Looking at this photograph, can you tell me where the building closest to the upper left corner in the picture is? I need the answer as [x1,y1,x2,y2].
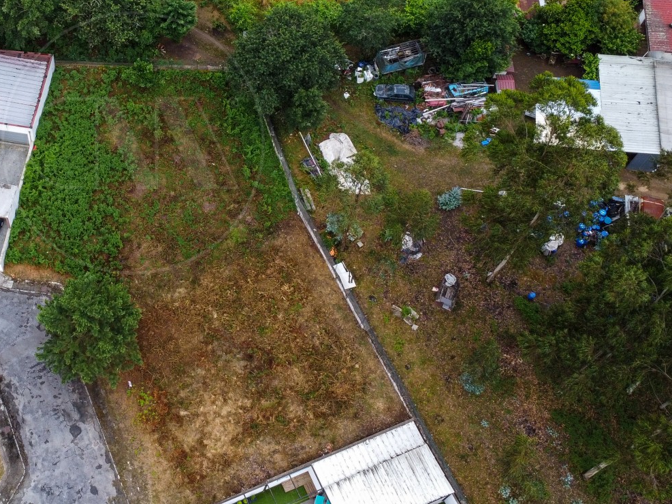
[0,49,57,147]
